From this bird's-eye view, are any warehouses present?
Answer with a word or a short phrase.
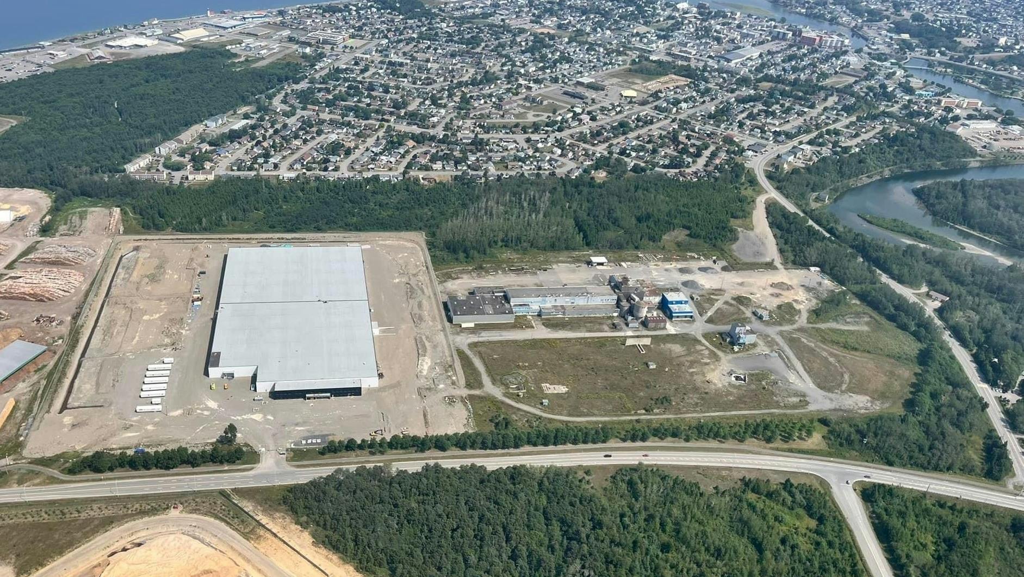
Yes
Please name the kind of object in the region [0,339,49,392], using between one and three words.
shed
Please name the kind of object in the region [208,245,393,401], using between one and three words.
warehouse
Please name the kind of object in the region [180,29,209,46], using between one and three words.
building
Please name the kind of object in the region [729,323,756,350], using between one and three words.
house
